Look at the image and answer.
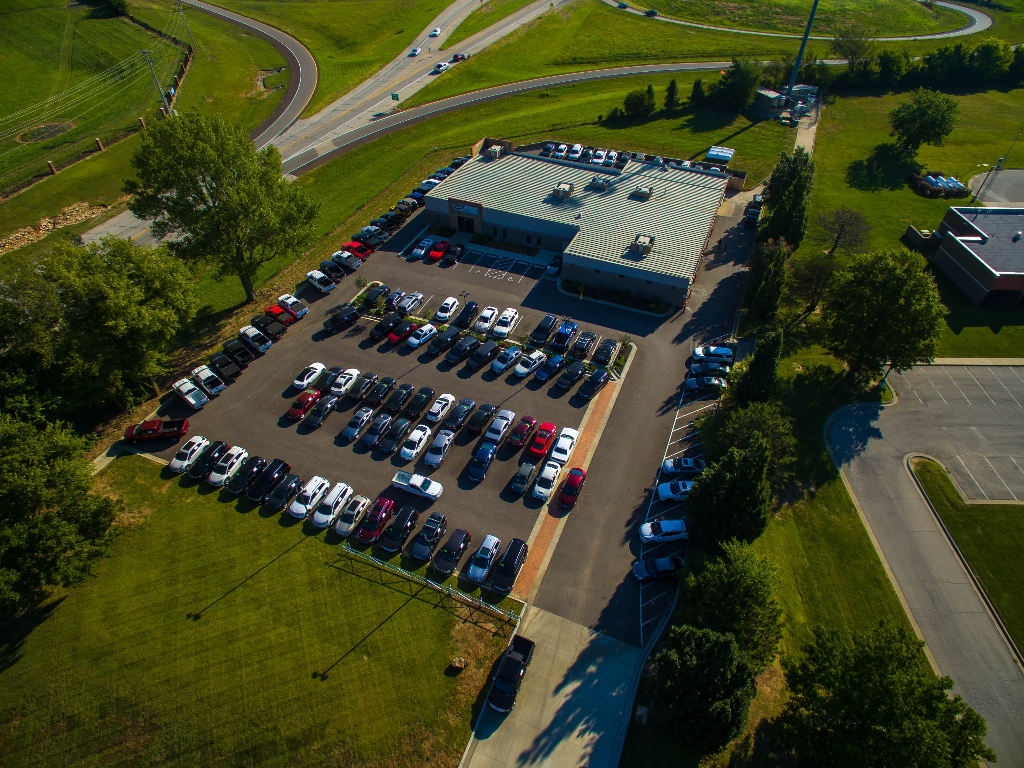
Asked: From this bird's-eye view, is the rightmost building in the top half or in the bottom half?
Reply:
top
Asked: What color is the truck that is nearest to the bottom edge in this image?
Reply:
black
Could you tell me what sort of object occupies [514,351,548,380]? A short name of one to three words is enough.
car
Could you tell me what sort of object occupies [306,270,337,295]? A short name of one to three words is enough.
truck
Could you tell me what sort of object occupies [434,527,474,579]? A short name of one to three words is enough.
car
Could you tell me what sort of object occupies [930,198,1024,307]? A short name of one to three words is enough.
building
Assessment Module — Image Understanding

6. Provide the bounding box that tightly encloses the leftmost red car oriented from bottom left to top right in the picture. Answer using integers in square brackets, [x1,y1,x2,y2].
[287,388,322,423]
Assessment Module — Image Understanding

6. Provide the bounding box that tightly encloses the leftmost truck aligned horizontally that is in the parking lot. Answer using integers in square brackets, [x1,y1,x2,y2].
[130,421,188,445]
